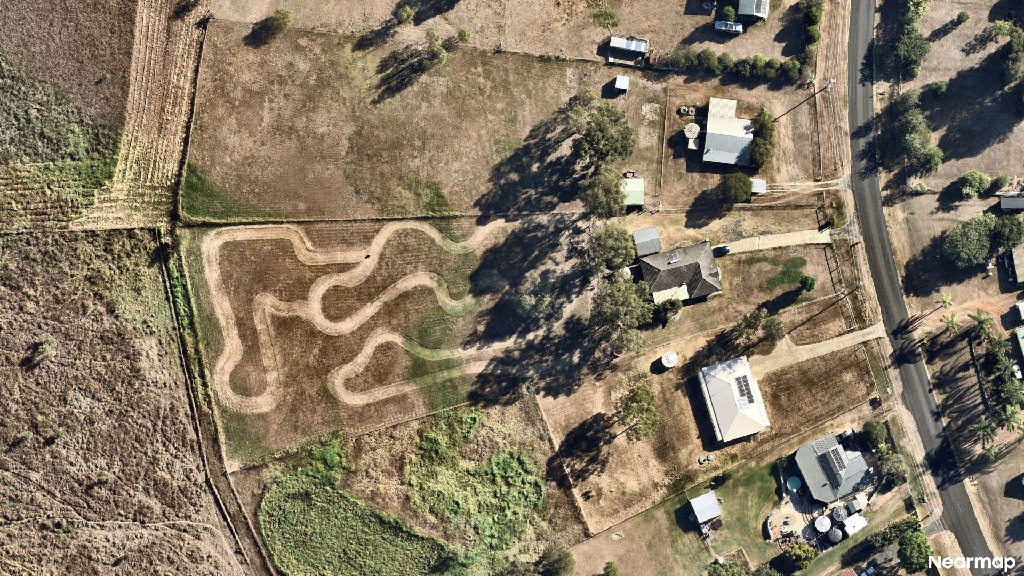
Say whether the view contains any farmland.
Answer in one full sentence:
Yes, farmland can be seen from above here.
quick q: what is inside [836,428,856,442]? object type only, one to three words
vehicle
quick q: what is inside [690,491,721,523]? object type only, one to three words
shed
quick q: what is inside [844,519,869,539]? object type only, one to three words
camper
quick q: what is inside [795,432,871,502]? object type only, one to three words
house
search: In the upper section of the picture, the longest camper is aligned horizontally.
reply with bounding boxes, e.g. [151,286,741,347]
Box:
[715,21,743,34]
